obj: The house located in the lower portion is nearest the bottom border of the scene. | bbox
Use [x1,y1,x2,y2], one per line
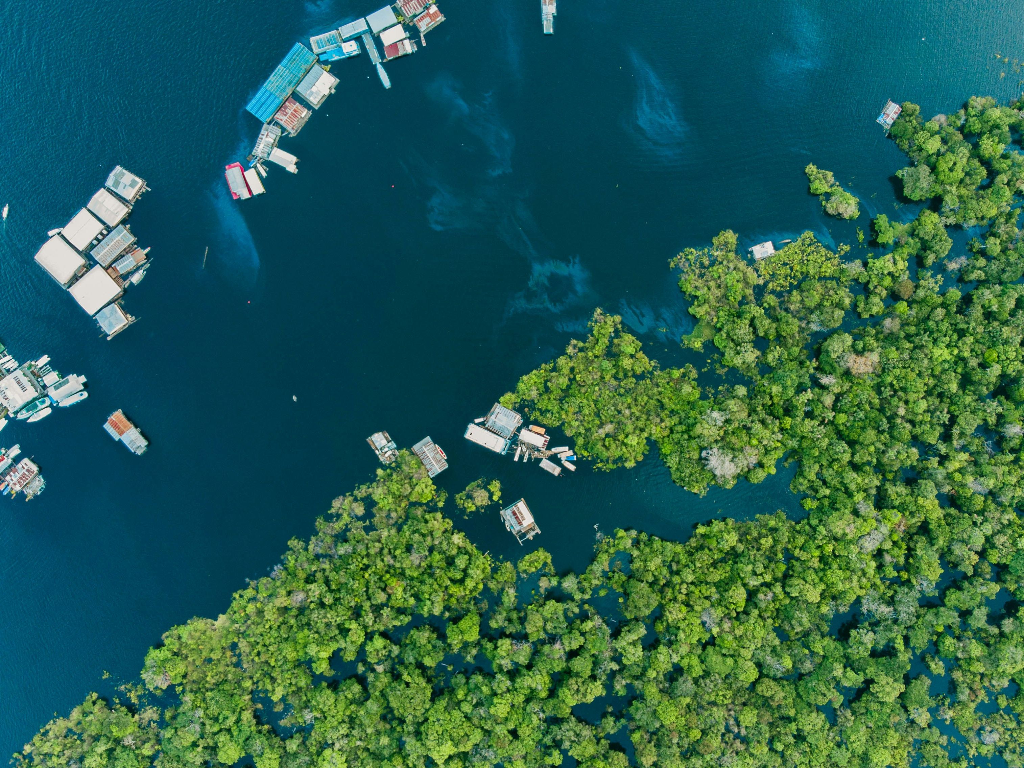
[501,498,541,546]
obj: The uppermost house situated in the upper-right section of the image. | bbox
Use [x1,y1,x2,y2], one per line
[876,98,901,129]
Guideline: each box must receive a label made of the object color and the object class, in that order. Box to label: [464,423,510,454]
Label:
white vessel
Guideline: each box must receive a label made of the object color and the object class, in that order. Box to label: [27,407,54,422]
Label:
white boat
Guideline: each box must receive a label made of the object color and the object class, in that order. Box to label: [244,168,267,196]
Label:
white boat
